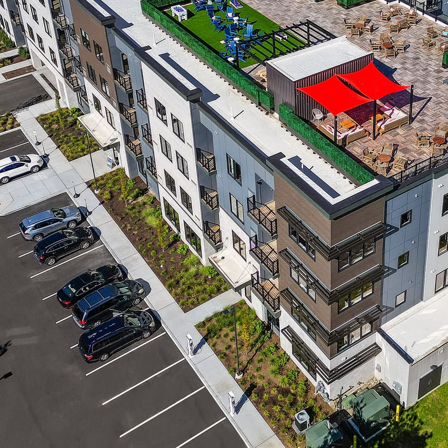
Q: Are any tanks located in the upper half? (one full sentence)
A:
No, no tank appears in the upper half.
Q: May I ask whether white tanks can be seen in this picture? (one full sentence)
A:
No, no white tank is visible in the scene.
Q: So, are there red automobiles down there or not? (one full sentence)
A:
No, the photo shows no red automobile.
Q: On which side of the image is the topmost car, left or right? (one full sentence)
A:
You can find the topmost car on the left side of the picture.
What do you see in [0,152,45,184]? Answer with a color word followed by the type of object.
white car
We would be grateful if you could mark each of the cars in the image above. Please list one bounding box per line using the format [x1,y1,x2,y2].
[0,152,45,184]
[28,225,96,267]
[15,204,82,245]
[68,277,149,329]
[76,308,159,366]
[51,261,125,308]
